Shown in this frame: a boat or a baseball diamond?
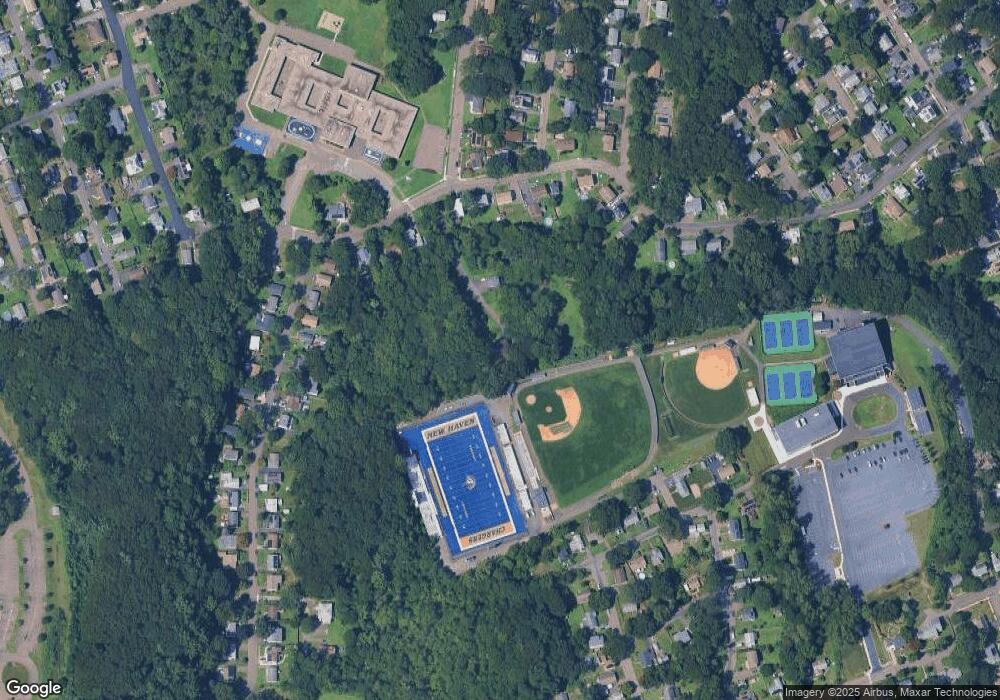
baseball diamond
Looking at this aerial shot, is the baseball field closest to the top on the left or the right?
right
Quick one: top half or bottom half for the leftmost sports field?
bottom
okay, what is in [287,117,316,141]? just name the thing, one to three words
sports court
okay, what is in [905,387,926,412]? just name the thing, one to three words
building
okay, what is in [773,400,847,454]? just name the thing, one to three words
building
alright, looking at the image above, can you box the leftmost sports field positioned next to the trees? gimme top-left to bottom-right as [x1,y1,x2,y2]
[402,403,529,558]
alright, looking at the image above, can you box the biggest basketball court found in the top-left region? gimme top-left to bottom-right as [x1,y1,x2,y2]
[231,125,270,155]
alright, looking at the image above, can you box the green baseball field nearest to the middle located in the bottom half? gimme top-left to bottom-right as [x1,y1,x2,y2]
[521,361,650,508]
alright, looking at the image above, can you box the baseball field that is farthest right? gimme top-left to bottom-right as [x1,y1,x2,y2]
[662,347,751,427]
